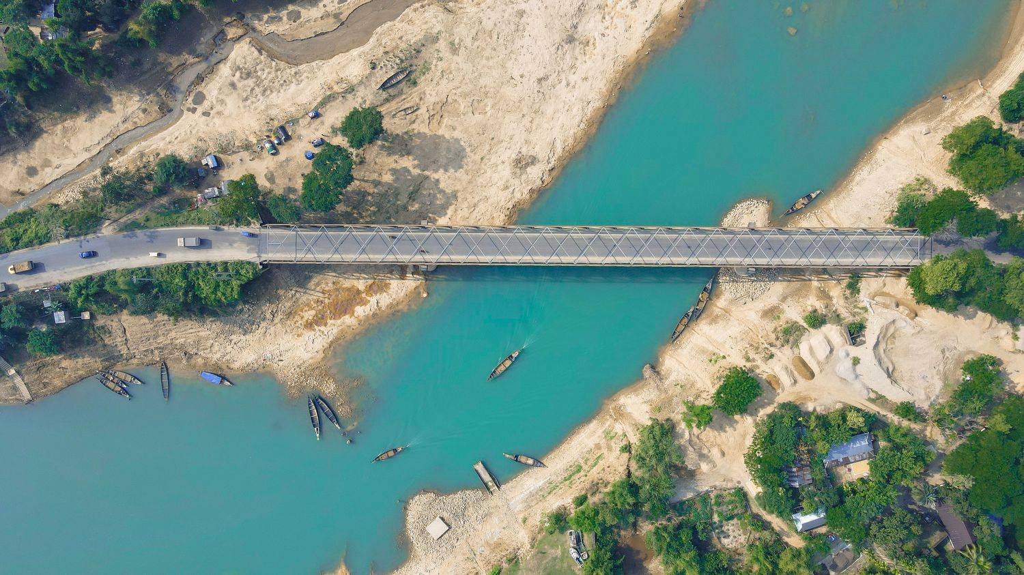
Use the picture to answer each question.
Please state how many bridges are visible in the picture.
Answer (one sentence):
Altogether the scene contains 1 bridge.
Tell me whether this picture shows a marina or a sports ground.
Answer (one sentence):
The picture captures a marina.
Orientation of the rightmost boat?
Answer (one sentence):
Seen from above, the rightmost boat lies diagonally.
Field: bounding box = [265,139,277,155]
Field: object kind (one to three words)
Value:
vehicle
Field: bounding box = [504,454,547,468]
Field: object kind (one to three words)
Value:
boat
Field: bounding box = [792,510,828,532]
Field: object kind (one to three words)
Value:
house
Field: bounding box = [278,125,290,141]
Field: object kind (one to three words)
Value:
vehicle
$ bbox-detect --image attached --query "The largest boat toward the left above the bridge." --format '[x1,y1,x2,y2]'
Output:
[375,69,410,89]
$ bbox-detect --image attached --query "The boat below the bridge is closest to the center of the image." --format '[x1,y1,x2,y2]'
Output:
[486,348,525,382]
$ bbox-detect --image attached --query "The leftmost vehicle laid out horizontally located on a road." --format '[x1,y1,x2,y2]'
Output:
[6,261,32,275]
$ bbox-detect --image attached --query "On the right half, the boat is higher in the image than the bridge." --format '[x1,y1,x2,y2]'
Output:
[786,190,823,215]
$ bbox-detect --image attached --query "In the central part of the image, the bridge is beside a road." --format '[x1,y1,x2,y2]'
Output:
[261,221,930,272]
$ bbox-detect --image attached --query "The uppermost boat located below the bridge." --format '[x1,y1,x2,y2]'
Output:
[696,277,714,321]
